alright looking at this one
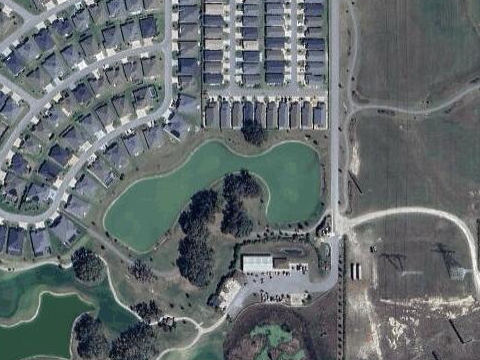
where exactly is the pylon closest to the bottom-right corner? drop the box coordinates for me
[450,268,480,281]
